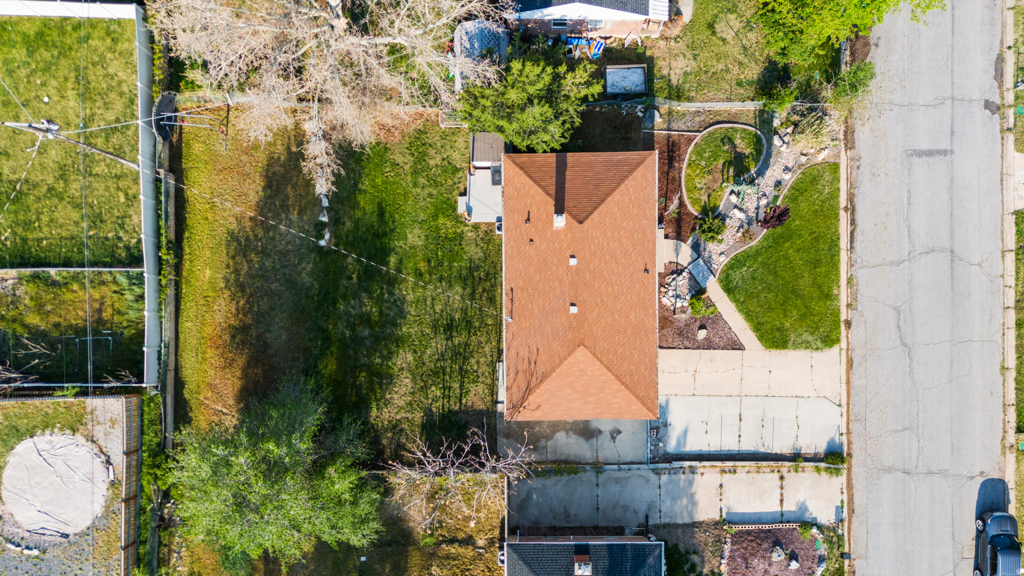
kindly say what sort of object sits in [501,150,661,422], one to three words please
house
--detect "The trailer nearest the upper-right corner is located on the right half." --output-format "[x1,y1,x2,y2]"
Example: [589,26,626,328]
[603,61,665,102]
